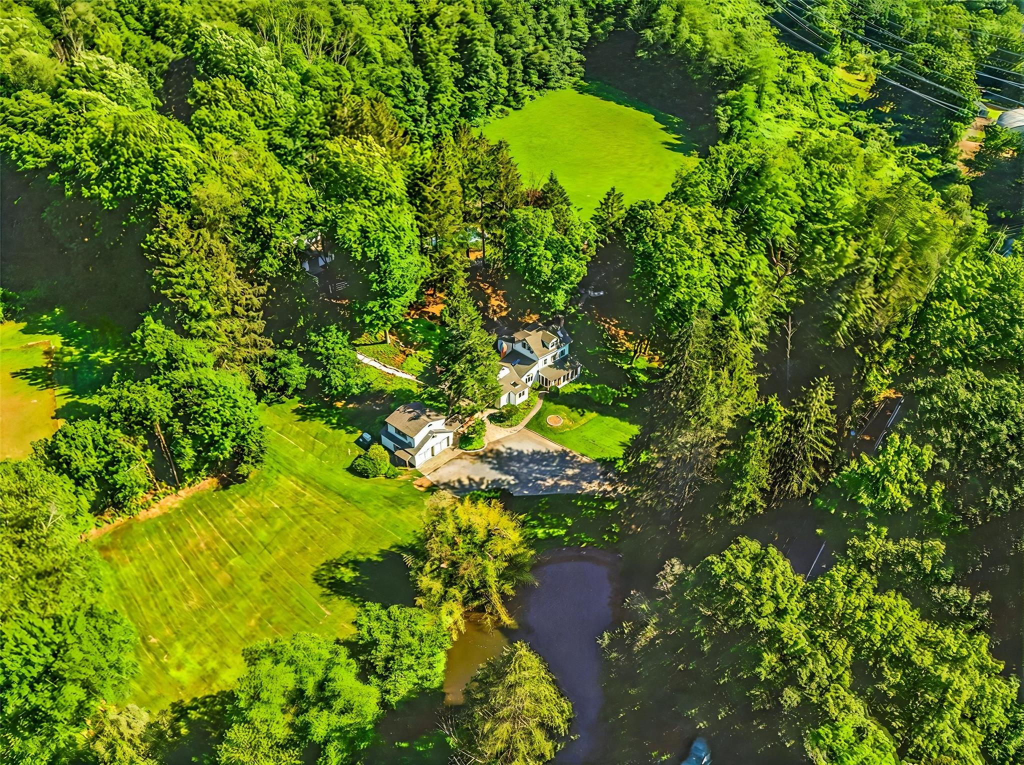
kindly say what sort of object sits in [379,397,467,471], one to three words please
building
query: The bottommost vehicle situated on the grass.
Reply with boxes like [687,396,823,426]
[355,433,378,449]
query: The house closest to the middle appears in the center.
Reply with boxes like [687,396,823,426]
[485,314,583,408]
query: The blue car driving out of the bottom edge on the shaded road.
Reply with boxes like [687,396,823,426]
[689,739,713,765]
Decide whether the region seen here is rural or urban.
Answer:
rural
